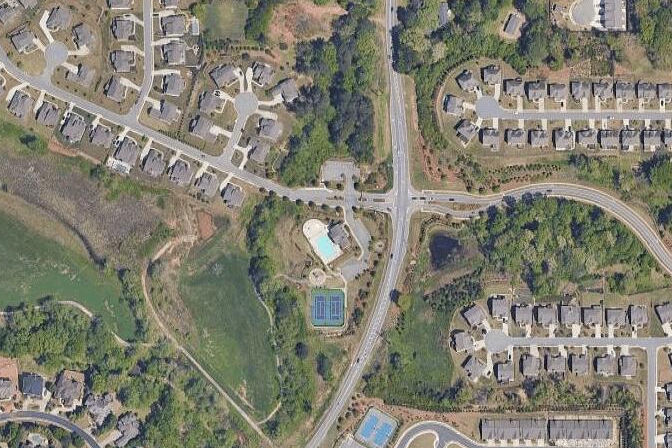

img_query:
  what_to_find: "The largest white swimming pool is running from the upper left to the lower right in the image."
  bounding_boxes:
[303,220,343,264]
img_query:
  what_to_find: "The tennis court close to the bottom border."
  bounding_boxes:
[357,409,397,448]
